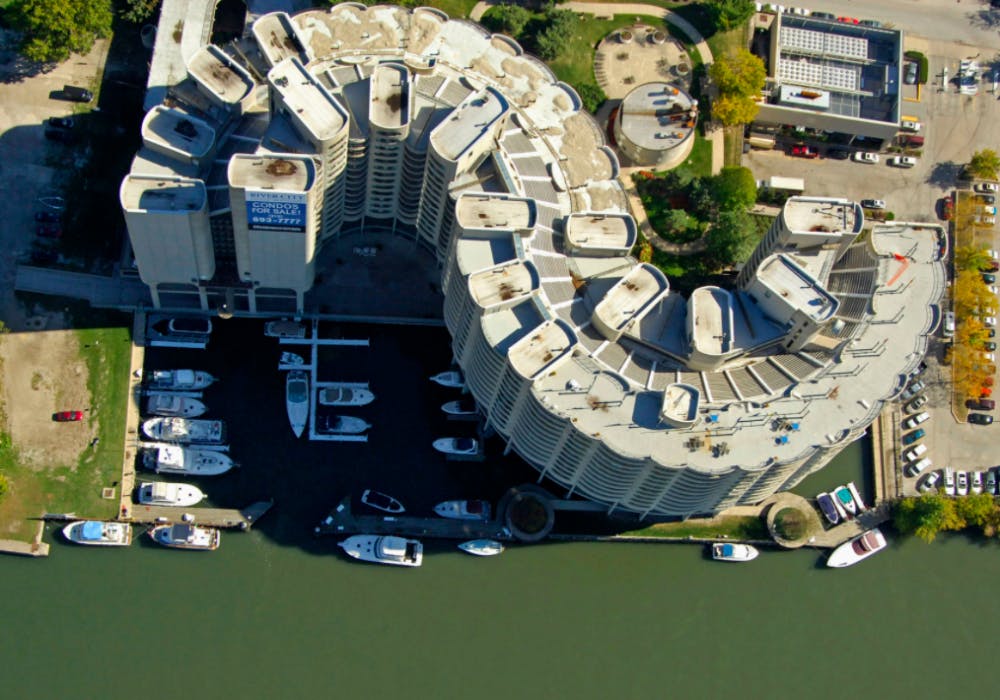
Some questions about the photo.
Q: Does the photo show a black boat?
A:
Yes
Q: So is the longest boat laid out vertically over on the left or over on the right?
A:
left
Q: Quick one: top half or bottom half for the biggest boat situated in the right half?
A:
bottom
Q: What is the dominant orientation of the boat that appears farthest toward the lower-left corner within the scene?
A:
from left to right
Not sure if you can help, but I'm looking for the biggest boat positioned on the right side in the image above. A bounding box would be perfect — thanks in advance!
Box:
[827,525,893,566]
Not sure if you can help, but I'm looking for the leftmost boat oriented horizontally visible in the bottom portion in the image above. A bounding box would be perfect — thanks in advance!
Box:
[62,517,133,545]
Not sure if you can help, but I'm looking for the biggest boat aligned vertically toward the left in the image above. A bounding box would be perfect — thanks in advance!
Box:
[286,370,309,437]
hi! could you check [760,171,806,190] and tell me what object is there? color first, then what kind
white vehicle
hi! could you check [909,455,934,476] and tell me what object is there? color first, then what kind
white car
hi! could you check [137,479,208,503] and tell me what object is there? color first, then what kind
white boat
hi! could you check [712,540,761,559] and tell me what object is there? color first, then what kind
white boat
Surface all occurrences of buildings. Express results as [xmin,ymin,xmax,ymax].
[747,13,902,150]
[121,0,951,520]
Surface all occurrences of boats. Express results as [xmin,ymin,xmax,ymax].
[286,370,309,437]
[429,370,463,387]
[831,483,857,515]
[146,393,209,413]
[359,487,404,512]
[827,525,893,566]
[137,479,208,503]
[712,540,761,559]
[441,399,481,415]
[279,351,305,363]
[146,521,223,549]
[139,441,237,474]
[318,386,377,404]
[432,435,479,455]
[816,491,838,523]
[317,415,373,432]
[142,414,224,441]
[146,368,220,388]
[458,539,504,555]
[336,532,425,565]
[434,500,491,519]
[62,517,133,545]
